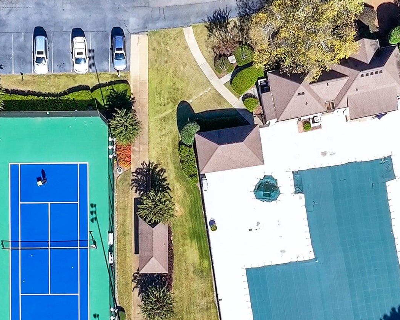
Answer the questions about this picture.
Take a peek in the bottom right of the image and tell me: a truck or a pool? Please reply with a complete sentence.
You can see a pool in the bottom right of the image.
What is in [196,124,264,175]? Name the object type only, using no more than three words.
building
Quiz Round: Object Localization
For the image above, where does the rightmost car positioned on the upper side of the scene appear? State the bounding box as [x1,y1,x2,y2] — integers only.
[112,36,128,68]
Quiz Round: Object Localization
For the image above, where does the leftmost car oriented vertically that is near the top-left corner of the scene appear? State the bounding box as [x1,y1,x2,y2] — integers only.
[32,38,49,73]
